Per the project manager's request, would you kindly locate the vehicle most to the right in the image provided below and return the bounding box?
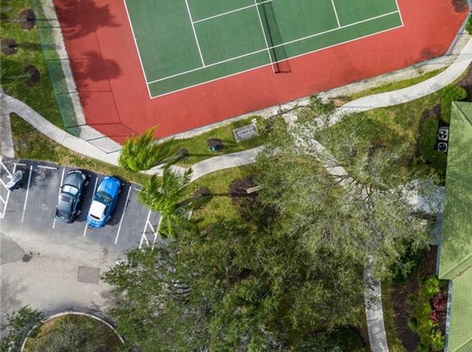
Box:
[82,176,119,231]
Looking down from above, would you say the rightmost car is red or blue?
blue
